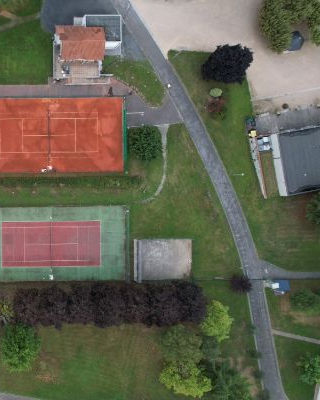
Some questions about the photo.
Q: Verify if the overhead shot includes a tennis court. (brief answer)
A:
Yes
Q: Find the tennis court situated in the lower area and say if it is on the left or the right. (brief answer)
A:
left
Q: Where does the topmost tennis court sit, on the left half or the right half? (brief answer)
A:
left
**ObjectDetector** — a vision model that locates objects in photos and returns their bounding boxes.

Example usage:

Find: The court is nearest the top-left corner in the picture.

[0,97,124,174]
